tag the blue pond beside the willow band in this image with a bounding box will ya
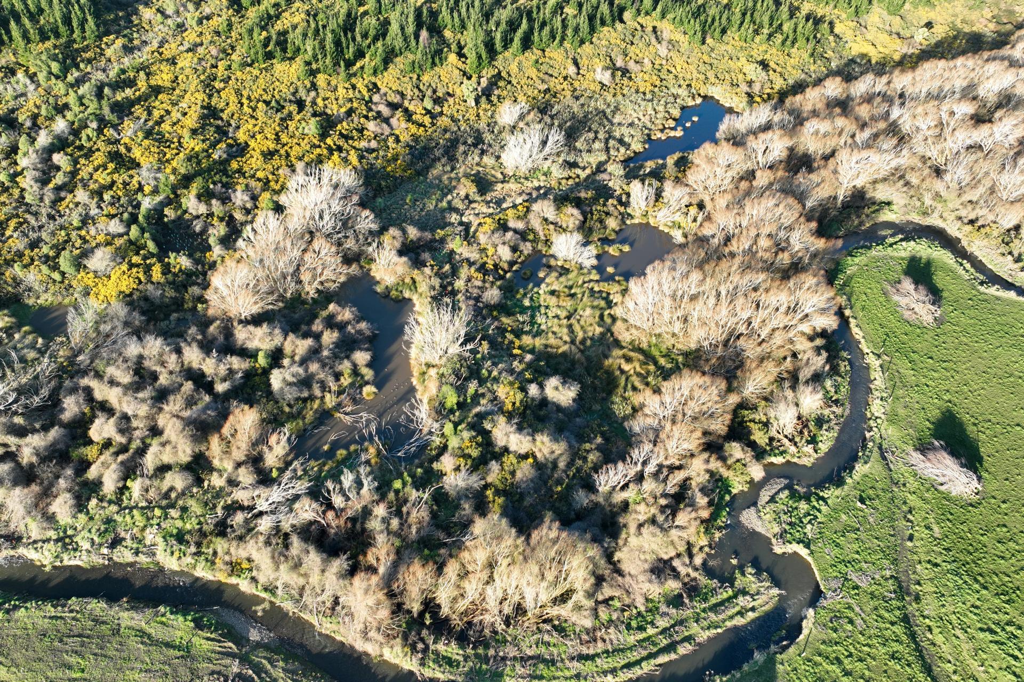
[615,97,734,170]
